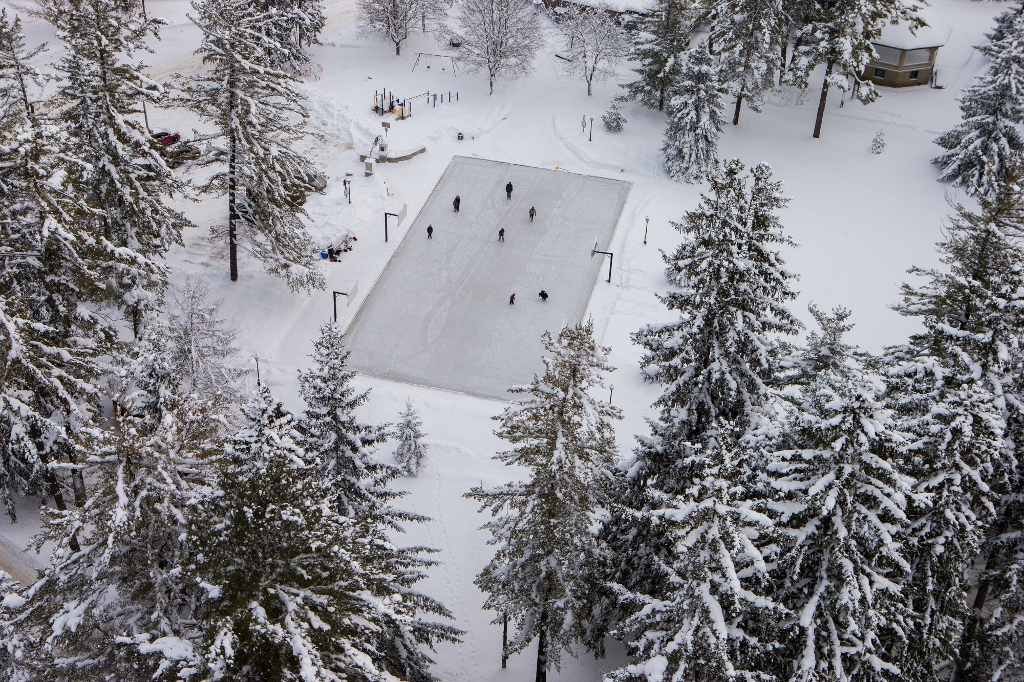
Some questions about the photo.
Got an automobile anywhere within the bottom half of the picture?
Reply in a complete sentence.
No, there is no automobile within the bottom half of the picture.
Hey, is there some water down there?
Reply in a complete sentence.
No, no water is visible.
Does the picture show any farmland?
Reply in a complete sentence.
No, no farmland is visible.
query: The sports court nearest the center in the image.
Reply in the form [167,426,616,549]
[342,157,633,406]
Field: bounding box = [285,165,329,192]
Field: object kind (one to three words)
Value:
car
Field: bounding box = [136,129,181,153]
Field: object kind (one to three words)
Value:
car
